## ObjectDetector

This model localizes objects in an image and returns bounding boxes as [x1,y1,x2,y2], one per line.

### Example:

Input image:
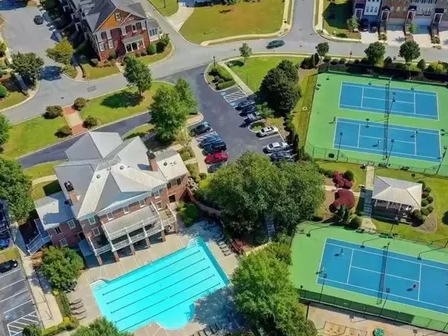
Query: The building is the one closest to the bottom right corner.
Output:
[370,175,423,219]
